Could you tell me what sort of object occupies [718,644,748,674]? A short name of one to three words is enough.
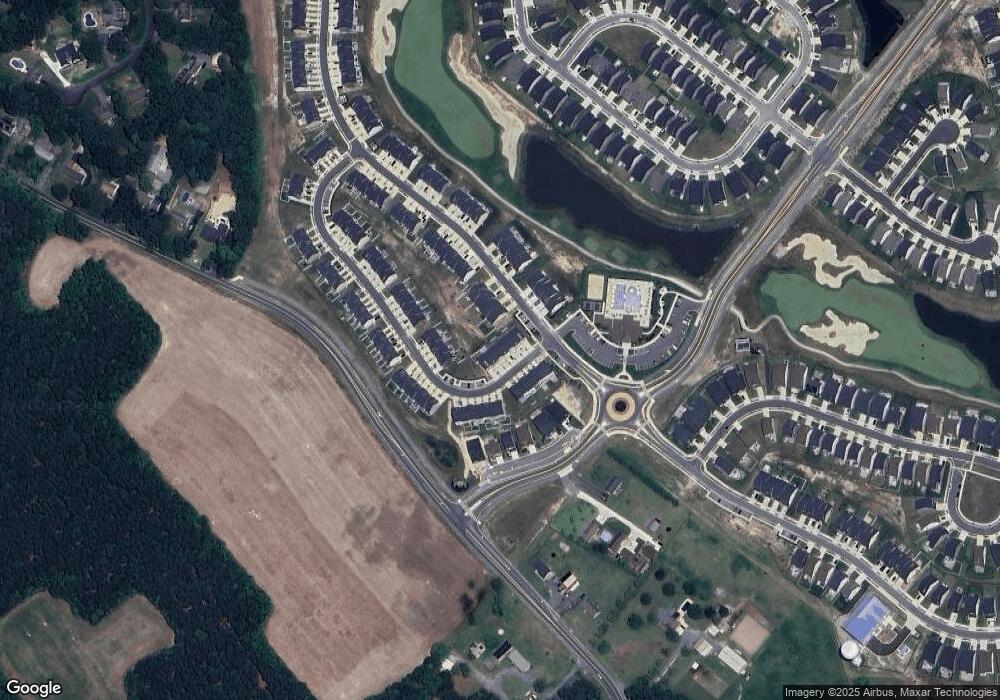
barn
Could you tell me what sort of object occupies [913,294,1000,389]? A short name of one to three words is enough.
pond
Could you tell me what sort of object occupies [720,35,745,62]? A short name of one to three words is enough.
house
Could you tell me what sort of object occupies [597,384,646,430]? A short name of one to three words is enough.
roundabout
